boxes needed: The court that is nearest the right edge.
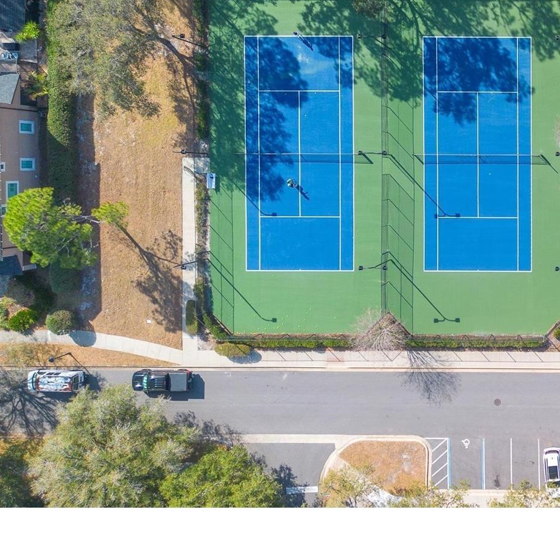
[389,0,560,336]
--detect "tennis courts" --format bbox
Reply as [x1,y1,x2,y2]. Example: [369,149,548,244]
[209,0,390,336]
[389,0,560,336]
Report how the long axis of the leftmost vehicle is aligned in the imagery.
from left to right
